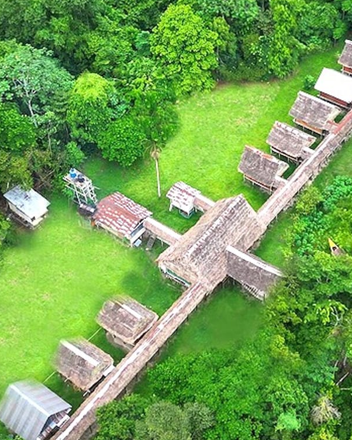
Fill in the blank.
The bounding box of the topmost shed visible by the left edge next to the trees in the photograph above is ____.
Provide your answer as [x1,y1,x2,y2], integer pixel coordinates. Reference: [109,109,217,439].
[0,180,55,236]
